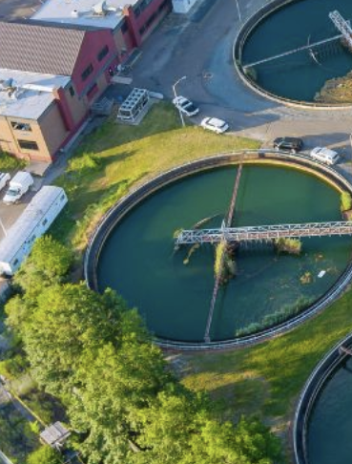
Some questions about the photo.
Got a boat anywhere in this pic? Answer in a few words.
No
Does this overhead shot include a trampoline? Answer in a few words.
No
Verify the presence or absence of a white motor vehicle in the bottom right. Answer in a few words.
No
